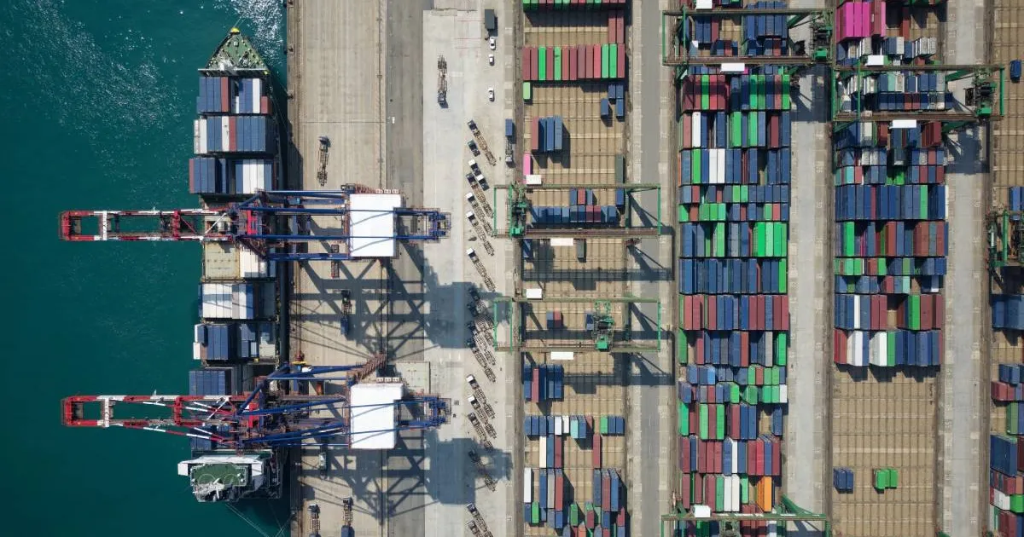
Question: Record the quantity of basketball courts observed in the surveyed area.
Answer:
0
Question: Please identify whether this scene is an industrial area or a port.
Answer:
port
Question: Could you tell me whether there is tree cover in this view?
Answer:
No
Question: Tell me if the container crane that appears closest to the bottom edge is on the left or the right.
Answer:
right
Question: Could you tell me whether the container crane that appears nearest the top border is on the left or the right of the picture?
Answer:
right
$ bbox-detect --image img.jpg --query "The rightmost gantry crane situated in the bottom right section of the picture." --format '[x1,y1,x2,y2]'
[663,489,832,537]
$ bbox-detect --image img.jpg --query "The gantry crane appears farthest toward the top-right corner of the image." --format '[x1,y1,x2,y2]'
[828,56,1002,135]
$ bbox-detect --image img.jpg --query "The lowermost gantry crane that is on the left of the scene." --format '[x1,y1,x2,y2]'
[61,342,460,452]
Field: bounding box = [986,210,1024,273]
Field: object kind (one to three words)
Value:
container crane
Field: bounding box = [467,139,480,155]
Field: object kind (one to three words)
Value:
vehicle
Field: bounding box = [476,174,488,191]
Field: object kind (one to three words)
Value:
vehicle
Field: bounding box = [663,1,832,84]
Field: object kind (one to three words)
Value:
container crane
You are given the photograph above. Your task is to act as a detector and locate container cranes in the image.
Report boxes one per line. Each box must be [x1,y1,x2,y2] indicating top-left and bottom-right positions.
[491,286,660,359]
[491,173,659,246]
[663,1,832,84]
[61,173,460,272]
[828,56,1002,135]
[61,342,460,452]
[663,489,832,537]
[986,210,1024,273]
